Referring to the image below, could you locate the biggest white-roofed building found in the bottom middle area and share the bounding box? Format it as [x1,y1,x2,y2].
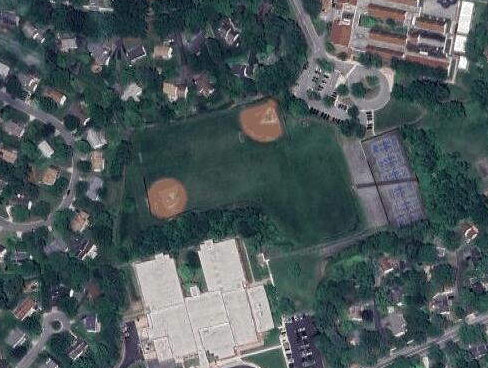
[135,238,275,365]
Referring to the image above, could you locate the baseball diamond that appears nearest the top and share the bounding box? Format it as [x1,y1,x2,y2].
[240,99,283,142]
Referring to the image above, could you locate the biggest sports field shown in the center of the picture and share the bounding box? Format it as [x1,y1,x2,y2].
[121,98,368,244]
